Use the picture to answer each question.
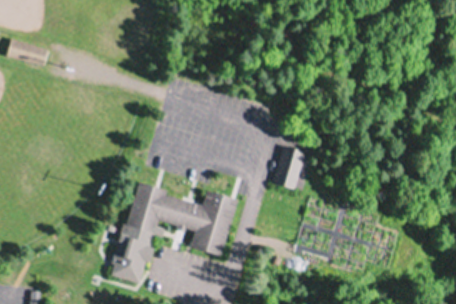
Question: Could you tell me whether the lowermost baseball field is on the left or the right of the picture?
left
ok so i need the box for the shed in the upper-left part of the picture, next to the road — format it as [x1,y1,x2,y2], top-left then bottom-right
[6,39,50,68]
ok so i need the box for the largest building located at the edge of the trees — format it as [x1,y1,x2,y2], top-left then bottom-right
[109,184,238,286]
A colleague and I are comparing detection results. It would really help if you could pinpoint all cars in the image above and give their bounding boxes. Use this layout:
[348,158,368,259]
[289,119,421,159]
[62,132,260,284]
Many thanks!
[155,158,160,168]
[271,160,276,170]
[156,284,161,292]
[148,280,154,289]
[190,169,195,178]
